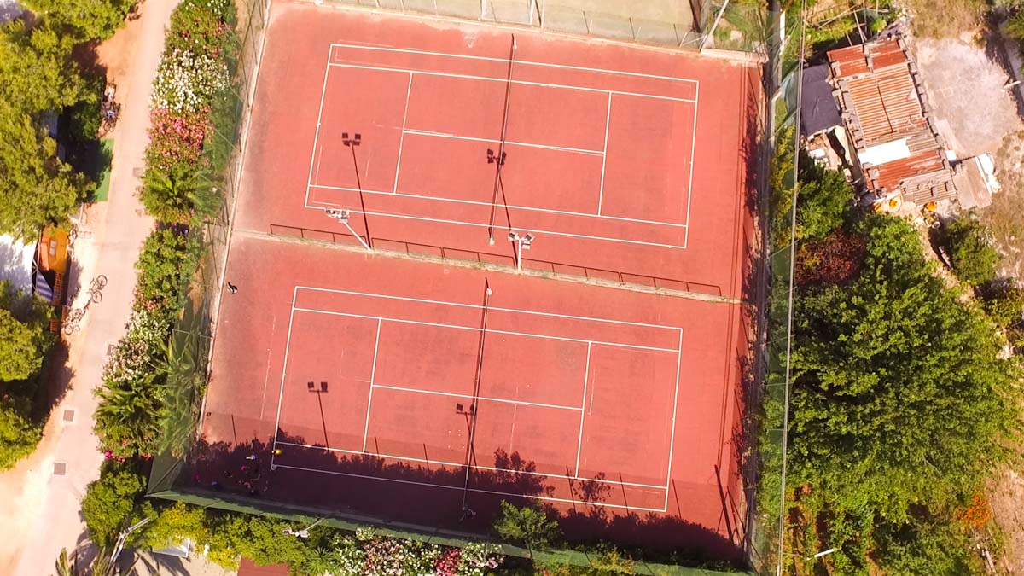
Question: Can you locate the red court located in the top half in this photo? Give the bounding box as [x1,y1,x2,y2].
[231,0,764,295]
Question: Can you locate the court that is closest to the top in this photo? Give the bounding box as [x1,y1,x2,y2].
[336,0,693,46]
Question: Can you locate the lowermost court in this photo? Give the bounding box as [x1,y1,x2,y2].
[174,238,751,566]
